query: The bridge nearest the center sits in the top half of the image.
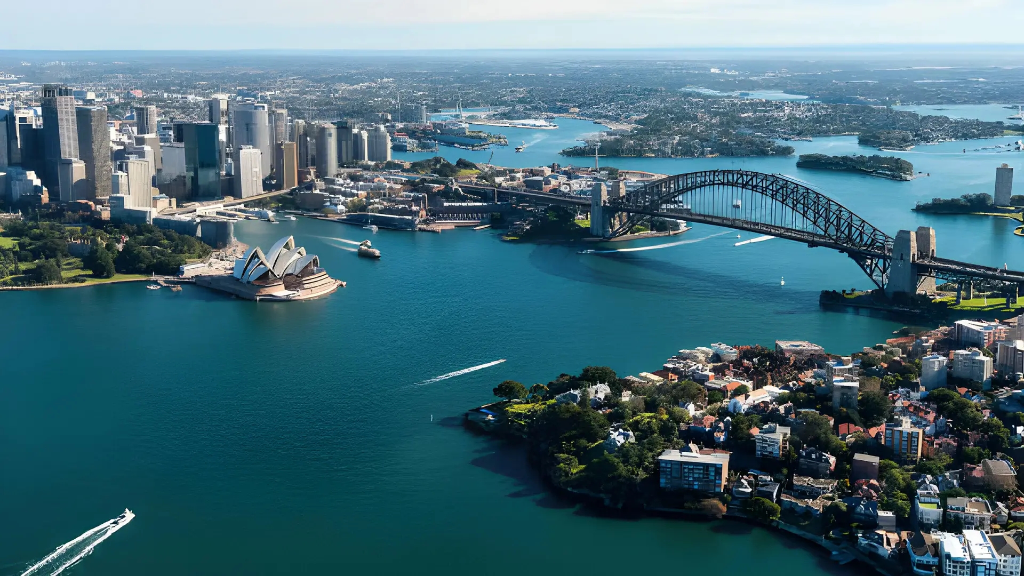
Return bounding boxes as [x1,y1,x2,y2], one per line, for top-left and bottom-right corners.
[432,181,591,226]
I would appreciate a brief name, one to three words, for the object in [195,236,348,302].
building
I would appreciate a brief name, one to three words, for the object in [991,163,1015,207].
building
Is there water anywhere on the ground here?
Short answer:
Yes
